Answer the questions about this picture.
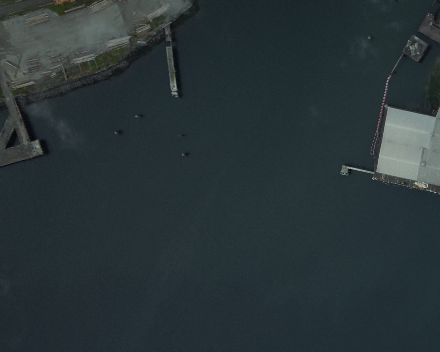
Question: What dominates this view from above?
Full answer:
For the most part, this view shows water.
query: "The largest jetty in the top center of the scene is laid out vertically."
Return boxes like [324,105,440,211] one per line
[165,24,182,91]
